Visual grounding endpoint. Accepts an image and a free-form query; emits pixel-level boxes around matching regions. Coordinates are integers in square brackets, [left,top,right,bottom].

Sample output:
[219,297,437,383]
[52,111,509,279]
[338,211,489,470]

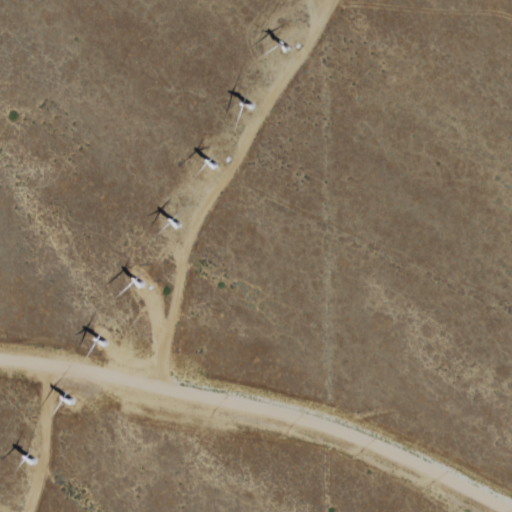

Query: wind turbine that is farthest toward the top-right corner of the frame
[264,31,302,56]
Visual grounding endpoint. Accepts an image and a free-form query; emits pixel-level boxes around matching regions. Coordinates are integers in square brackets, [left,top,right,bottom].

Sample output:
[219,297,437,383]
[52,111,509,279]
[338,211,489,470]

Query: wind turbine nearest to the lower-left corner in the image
[14,437,40,472]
